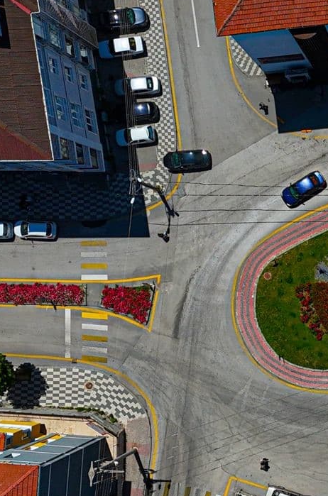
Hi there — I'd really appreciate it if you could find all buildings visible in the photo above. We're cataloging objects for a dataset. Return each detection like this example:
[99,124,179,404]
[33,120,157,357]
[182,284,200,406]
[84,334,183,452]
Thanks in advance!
[0,416,106,496]
[214,0,328,70]
[0,0,105,169]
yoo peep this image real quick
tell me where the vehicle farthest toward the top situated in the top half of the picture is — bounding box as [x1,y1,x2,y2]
[103,7,152,31]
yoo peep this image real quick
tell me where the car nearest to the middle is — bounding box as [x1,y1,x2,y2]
[164,149,213,172]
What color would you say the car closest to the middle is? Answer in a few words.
black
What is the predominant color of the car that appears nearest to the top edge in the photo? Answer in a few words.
black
